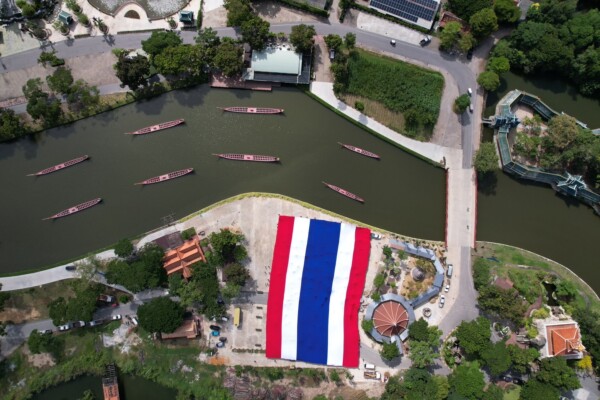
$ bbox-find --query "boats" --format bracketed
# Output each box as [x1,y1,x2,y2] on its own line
[127,119,185,134]
[134,168,194,184]
[339,142,381,158]
[323,182,366,201]
[42,198,101,219]
[26,155,88,176]
[219,106,284,112]
[214,153,281,160]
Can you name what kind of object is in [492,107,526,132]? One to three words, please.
building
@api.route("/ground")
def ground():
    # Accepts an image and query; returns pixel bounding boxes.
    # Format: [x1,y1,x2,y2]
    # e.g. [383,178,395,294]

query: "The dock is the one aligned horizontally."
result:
[210,72,281,91]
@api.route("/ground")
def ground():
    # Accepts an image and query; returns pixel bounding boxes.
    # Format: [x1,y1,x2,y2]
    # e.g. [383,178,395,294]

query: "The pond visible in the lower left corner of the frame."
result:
[30,373,180,400]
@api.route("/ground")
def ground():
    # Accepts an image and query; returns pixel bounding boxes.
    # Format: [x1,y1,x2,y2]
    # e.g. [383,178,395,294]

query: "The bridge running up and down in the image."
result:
[448,168,479,248]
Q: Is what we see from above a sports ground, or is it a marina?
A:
marina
